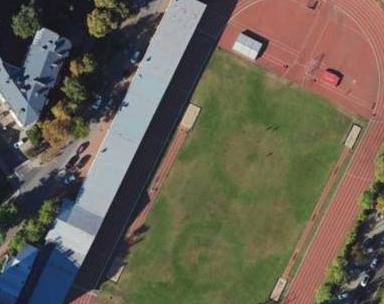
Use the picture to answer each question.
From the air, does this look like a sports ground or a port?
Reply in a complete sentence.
This image shows a sports ground.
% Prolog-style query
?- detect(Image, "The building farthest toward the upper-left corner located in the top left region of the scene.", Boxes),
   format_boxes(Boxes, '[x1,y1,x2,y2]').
[0,29,74,129]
